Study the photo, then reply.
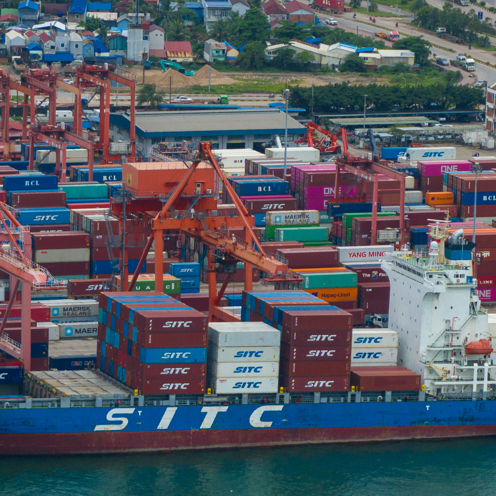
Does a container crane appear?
Yes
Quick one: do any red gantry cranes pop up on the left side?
Yes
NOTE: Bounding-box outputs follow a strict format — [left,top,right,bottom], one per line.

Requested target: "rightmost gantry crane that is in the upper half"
[331,144,411,245]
